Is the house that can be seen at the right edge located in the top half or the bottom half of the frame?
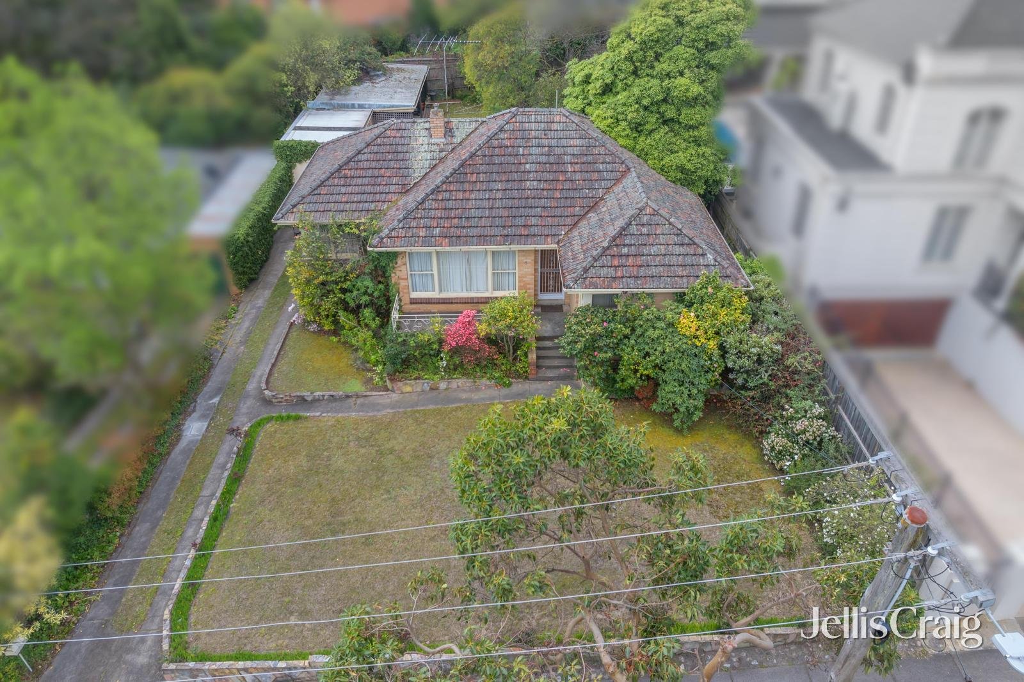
top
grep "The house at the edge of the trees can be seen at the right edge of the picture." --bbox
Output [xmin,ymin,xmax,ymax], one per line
[740,0,1024,342]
